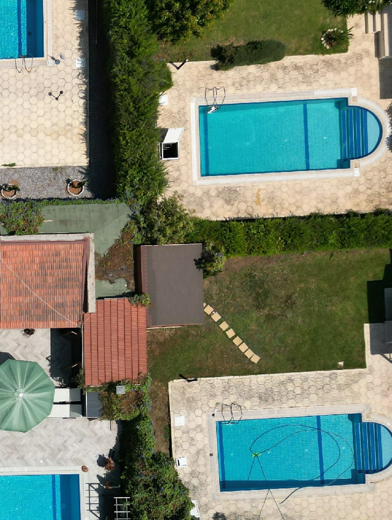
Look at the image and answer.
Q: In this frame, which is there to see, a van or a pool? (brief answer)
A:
pool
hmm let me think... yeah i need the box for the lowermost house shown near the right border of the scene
[355,291,392,349]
